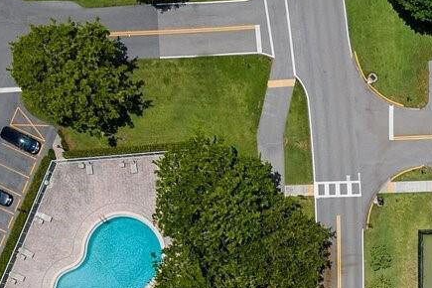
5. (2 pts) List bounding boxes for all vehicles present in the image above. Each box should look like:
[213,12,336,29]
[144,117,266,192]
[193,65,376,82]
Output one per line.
[0,189,15,206]
[1,127,42,154]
